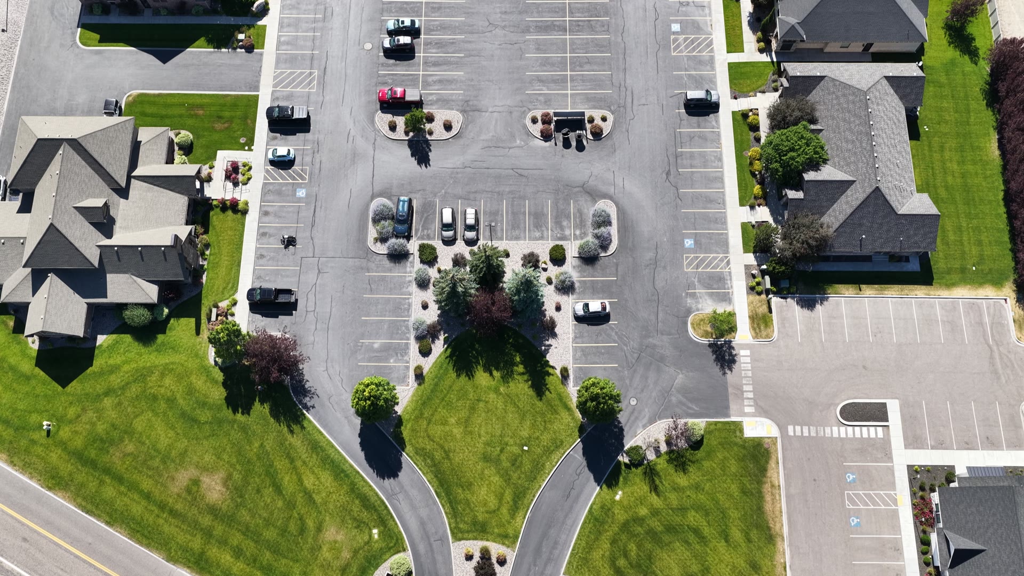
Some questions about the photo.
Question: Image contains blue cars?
Yes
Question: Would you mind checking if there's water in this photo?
No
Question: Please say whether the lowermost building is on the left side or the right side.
right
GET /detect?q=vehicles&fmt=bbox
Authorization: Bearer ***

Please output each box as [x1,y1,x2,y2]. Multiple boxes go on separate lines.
[0,172,8,201]
[387,22,421,37]
[268,149,296,164]
[104,95,123,116]
[463,210,479,244]
[683,93,719,110]
[247,286,298,306]
[378,88,424,108]
[394,201,411,237]
[383,38,415,54]
[573,303,610,319]
[266,104,311,124]
[439,208,456,244]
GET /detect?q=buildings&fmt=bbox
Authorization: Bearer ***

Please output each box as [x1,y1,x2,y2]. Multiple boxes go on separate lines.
[71,0,207,15]
[777,63,941,258]
[774,0,929,53]
[921,466,1024,576]
[0,116,203,337]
